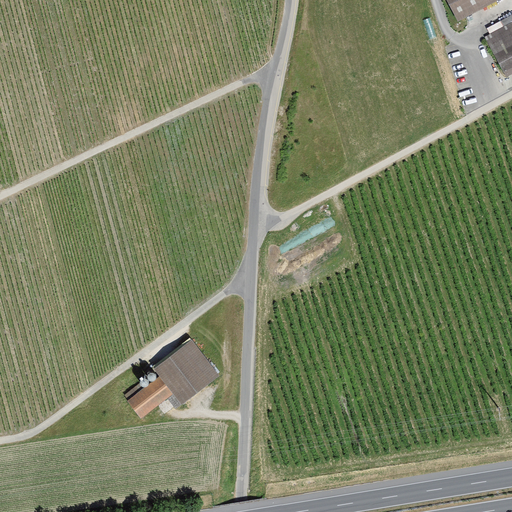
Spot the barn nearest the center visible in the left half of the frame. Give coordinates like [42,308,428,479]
[154,338,218,404]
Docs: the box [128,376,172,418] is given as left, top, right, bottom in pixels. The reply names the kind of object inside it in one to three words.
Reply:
building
